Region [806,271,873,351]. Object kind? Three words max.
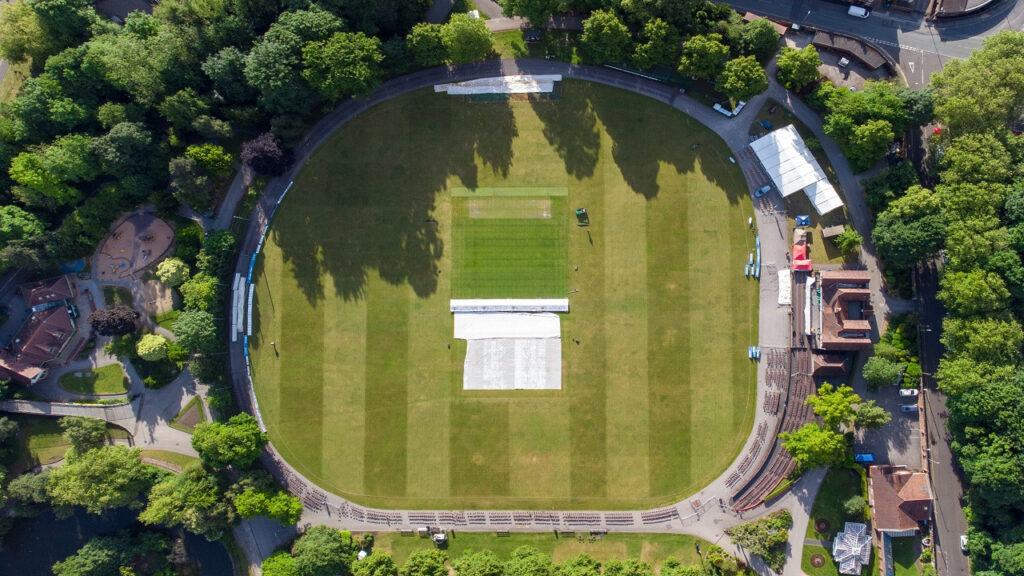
building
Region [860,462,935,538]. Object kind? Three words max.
house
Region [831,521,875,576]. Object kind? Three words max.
greenhouse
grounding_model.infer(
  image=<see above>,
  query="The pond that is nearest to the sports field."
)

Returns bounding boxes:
[0,507,233,576]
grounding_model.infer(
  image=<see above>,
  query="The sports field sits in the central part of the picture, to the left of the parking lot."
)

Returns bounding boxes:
[246,78,761,510]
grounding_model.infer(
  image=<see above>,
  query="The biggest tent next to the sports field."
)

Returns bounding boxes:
[746,124,844,217]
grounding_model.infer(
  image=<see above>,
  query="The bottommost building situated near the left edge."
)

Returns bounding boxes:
[0,274,83,390]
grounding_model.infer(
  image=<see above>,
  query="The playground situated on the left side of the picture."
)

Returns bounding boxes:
[96,212,172,281]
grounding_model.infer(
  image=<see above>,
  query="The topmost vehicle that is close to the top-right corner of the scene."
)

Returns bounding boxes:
[849,4,871,16]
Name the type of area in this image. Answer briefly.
sports ground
